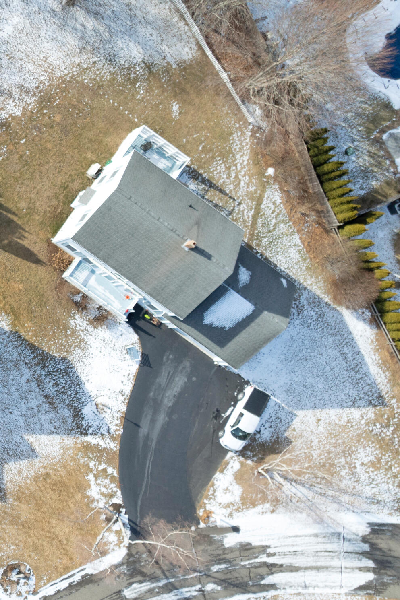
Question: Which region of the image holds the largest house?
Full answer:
The largest house appears toward the center of the photo.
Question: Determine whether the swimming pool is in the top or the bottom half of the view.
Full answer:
Seen from above, the swimming pool lies in the top half of the view.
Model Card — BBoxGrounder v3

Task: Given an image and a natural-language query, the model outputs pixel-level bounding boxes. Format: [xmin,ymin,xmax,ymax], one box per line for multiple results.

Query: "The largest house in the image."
[54,150,297,369]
